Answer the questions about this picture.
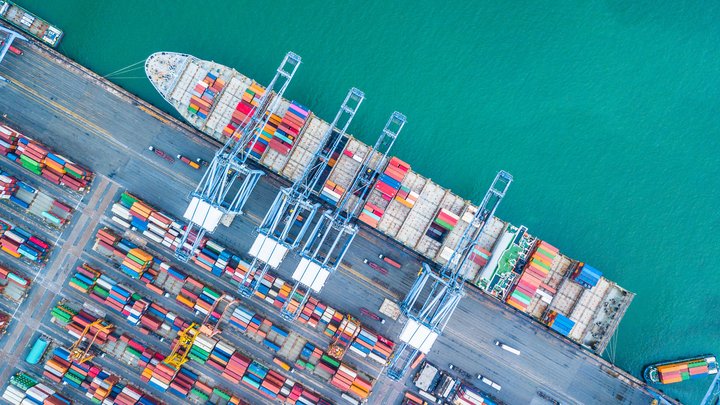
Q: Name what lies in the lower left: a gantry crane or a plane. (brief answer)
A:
gantry crane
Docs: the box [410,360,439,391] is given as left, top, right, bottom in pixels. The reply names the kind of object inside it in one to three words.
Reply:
shed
